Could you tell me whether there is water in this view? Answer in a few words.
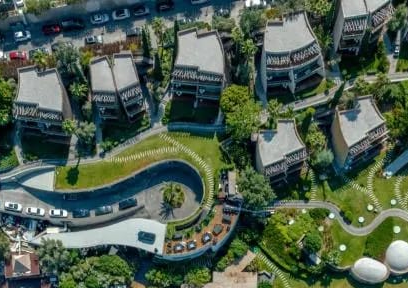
No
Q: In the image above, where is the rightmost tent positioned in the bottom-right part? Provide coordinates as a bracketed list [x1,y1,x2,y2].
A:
[382,242,408,274]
